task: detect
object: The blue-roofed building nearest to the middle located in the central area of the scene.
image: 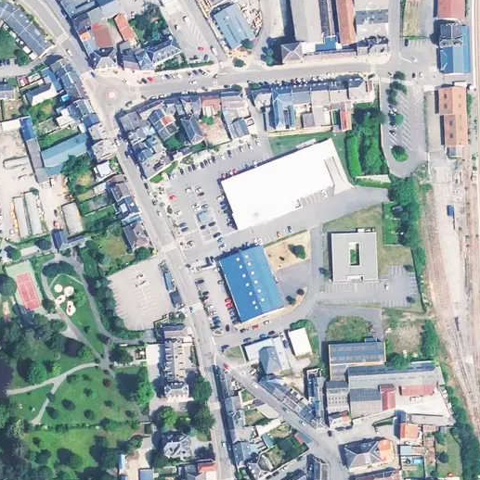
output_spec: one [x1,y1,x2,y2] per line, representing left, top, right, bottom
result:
[218,245,284,323]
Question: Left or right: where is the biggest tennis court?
left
